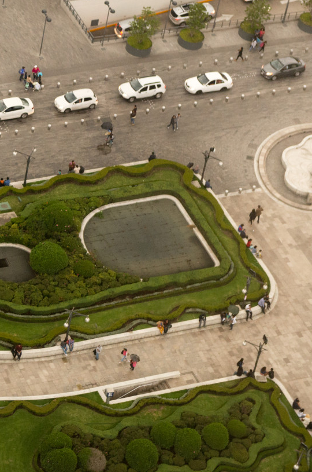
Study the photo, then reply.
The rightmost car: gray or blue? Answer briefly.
gray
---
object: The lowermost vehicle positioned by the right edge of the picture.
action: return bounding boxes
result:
[256,56,311,81]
